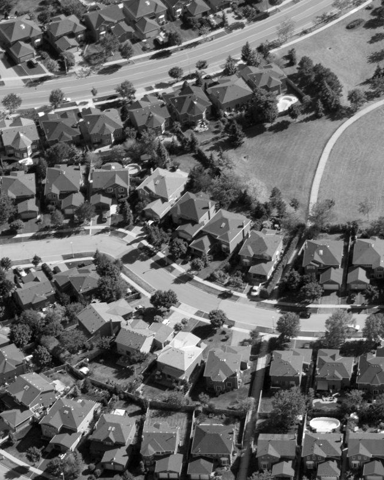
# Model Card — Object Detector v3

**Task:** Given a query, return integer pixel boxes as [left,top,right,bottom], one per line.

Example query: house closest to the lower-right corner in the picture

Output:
[347,428,384,480]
